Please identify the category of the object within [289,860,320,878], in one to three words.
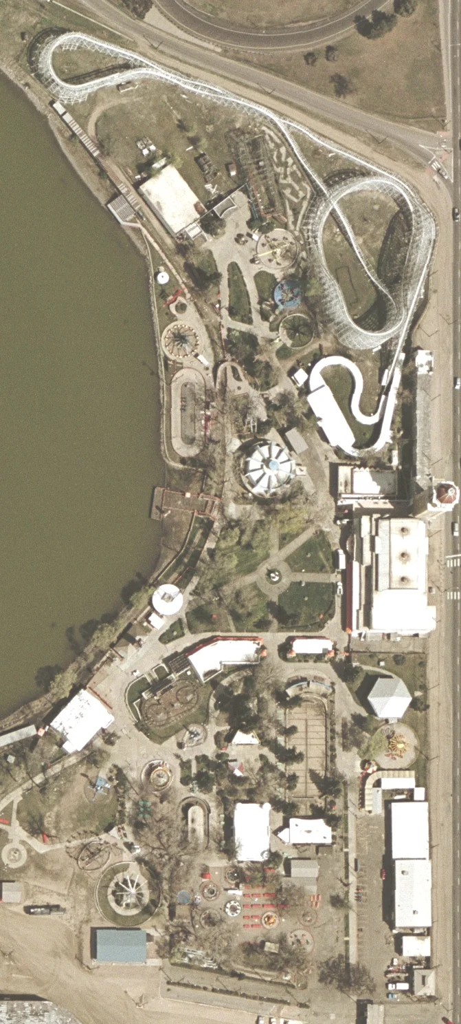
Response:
shed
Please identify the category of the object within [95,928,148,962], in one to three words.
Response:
shed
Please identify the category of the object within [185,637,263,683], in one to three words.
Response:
building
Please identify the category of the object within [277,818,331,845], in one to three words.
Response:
building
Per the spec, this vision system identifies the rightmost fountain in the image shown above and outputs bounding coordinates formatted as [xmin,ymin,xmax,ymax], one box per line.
[267,568,284,585]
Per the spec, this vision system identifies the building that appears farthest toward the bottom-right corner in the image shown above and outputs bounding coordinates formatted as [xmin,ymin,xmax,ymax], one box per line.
[412,969,436,996]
